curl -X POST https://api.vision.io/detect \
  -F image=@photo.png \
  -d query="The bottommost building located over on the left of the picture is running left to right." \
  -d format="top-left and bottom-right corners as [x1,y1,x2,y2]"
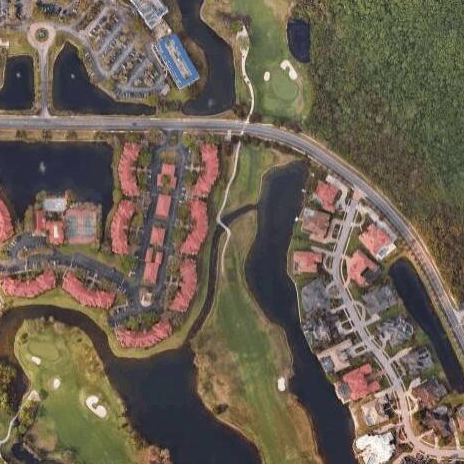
[111,315,175,348]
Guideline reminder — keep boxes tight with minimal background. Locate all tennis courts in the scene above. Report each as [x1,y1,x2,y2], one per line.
[67,209,82,243]
[81,209,96,243]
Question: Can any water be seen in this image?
Yes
